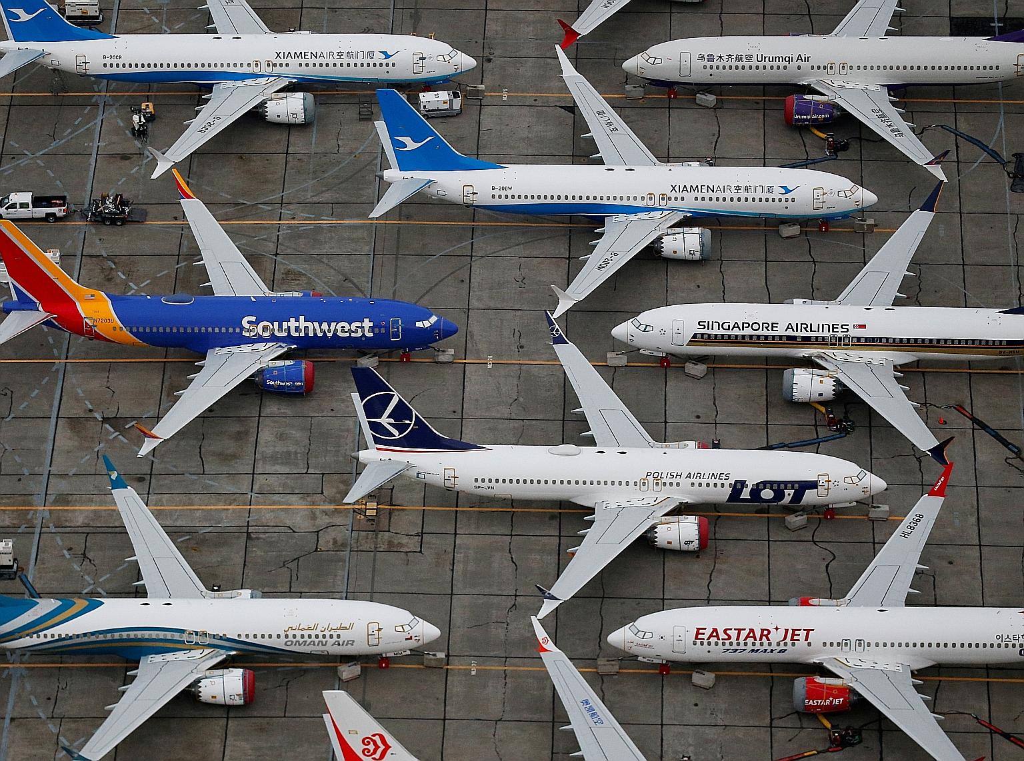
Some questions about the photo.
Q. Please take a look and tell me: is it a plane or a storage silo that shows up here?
plane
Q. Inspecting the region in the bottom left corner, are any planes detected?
Yes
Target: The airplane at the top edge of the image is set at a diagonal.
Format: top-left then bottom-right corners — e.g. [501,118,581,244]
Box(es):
[559,0,638,48]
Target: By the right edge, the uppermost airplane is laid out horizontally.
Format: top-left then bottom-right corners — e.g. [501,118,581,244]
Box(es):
[623,0,1024,180]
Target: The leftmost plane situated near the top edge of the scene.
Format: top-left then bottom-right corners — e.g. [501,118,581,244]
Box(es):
[0,0,478,177]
